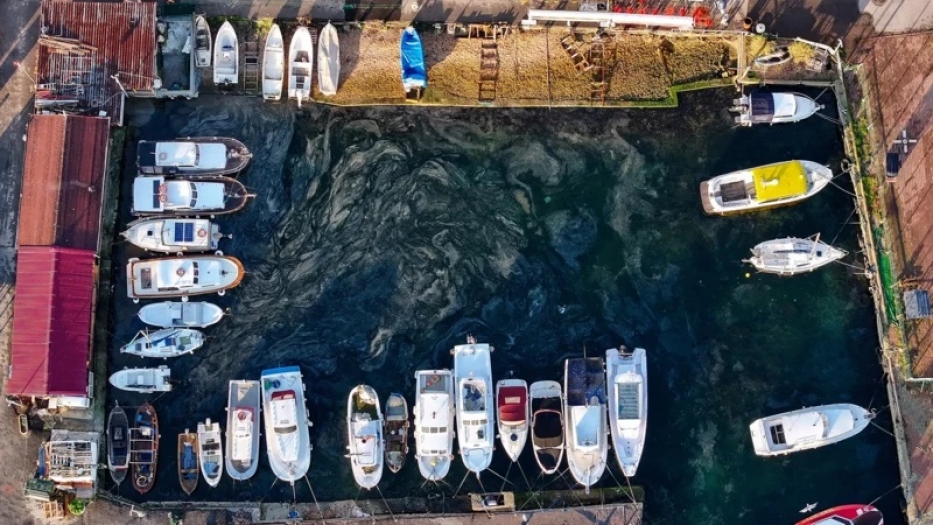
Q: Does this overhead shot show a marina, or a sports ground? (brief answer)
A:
marina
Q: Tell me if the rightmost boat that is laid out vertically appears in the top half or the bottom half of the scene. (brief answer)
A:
bottom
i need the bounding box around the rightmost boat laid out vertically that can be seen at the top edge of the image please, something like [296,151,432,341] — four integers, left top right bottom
[399,24,427,96]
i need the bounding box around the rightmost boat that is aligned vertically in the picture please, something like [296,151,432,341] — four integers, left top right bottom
[605,342,649,502]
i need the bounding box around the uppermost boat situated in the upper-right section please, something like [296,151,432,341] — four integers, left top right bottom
[754,49,795,68]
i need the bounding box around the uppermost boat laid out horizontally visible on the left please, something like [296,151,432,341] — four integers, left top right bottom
[138,136,256,177]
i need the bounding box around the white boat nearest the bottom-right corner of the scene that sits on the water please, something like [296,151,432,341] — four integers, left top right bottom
[743,379,891,460]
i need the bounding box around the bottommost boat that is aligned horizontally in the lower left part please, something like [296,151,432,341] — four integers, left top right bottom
[105,365,181,403]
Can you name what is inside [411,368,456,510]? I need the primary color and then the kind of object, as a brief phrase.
white boat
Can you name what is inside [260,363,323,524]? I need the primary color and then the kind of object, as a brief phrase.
white boat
